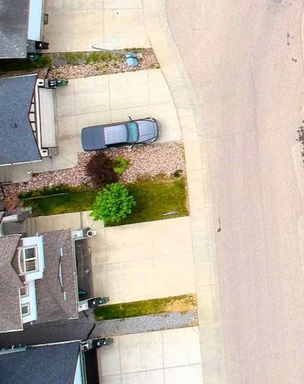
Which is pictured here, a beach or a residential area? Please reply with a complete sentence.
The area seen from above is a residential area.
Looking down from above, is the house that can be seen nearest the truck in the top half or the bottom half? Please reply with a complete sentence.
The top half of the photo is where the house that can be seen nearest the truck is.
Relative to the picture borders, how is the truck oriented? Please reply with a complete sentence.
What the image shows is the truck lying from side to side.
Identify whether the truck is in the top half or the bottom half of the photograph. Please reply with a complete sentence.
You can find the truck in the top half.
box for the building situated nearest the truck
[0,72,59,172]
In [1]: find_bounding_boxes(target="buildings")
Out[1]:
[0,72,59,172]
[0,0,49,61]
[0,228,94,334]
[0,339,102,384]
